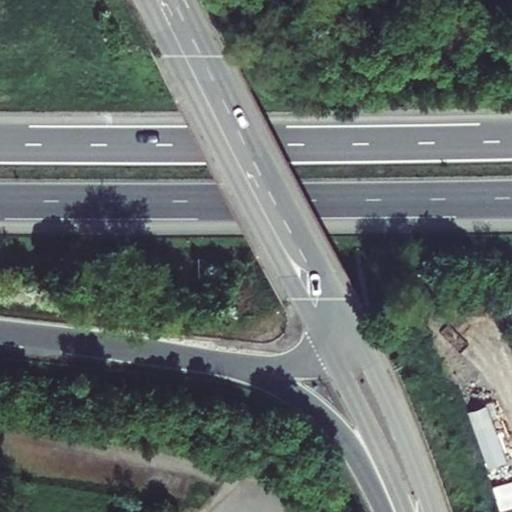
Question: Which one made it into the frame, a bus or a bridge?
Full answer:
Of the two, only a bridge appears.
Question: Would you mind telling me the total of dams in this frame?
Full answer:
The photo contains no dams.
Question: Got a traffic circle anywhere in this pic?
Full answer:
No, I can see no traffic circle in this picture.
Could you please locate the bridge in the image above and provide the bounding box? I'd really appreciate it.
[152,56,358,300]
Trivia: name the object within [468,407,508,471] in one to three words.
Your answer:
shed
